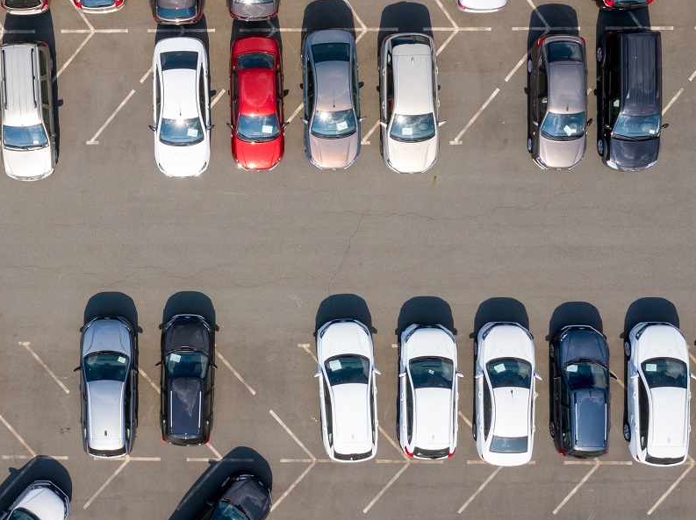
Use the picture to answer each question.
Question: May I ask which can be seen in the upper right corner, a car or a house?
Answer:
car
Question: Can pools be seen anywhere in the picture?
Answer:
No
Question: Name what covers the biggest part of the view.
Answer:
paved ground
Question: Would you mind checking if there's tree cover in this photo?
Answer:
No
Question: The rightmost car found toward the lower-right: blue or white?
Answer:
white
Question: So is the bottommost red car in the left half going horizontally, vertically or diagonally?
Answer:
vertically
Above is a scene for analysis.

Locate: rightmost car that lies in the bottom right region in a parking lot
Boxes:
[625,321,696,466]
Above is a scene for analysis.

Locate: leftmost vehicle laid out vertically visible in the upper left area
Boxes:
[0,42,59,181]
